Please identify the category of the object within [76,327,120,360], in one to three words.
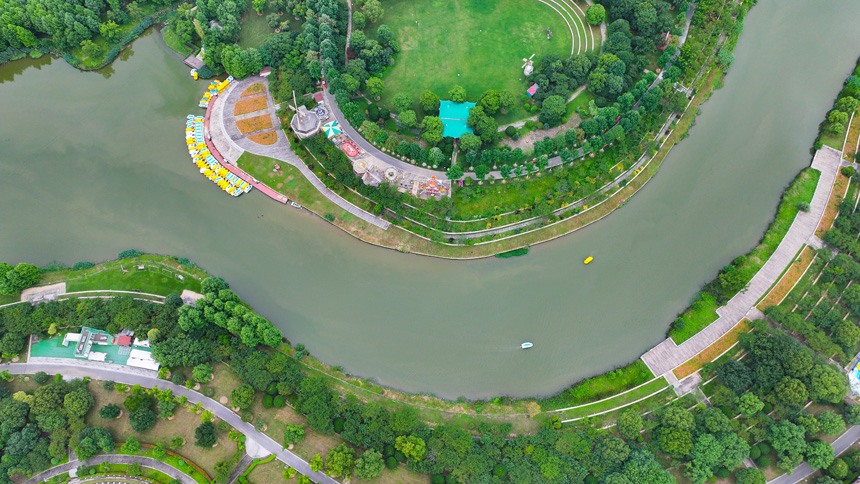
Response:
building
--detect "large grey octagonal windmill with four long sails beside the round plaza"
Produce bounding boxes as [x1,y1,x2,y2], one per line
[285,89,321,139]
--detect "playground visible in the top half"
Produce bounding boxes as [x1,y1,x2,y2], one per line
[412,173,452,198]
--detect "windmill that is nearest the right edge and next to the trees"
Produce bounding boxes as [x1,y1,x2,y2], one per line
[522,52,536,79]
